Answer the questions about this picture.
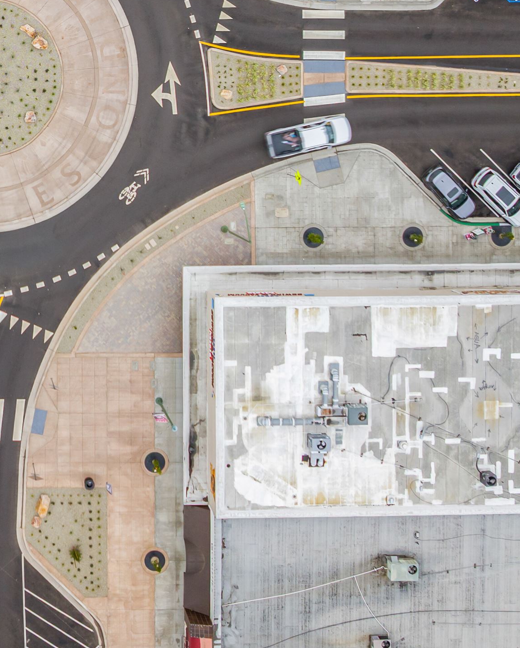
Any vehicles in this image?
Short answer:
Yes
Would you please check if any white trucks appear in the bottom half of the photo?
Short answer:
No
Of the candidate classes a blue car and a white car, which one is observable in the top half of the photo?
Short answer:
white car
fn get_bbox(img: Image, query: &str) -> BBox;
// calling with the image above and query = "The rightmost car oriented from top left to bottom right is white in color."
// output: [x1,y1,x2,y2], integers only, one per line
[469,163,520,229]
